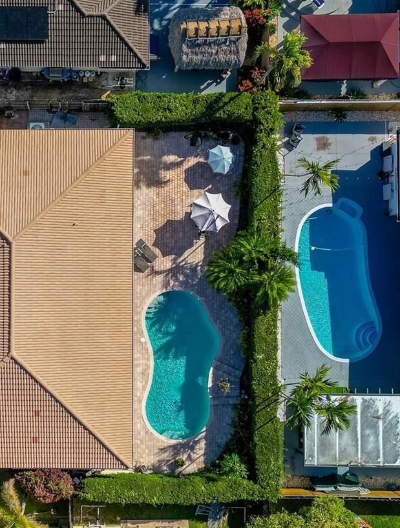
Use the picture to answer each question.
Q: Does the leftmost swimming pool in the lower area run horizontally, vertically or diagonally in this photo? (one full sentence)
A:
What the image shows is the leftmost swimming pool in the lower area lying vertically.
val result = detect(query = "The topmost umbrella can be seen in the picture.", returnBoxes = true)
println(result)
[206,147,232,174]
